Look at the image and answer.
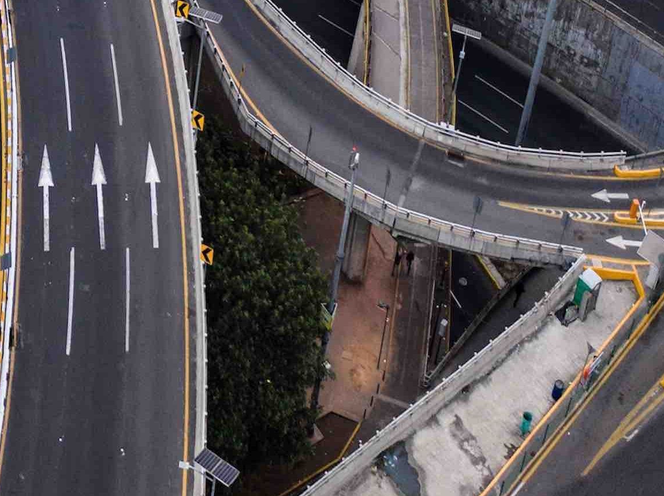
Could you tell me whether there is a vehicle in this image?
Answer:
No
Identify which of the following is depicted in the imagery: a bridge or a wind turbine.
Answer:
bridge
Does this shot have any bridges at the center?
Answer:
Yes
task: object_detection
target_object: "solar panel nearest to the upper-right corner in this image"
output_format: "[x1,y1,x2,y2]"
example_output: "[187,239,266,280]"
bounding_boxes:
[452,24,482,39]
